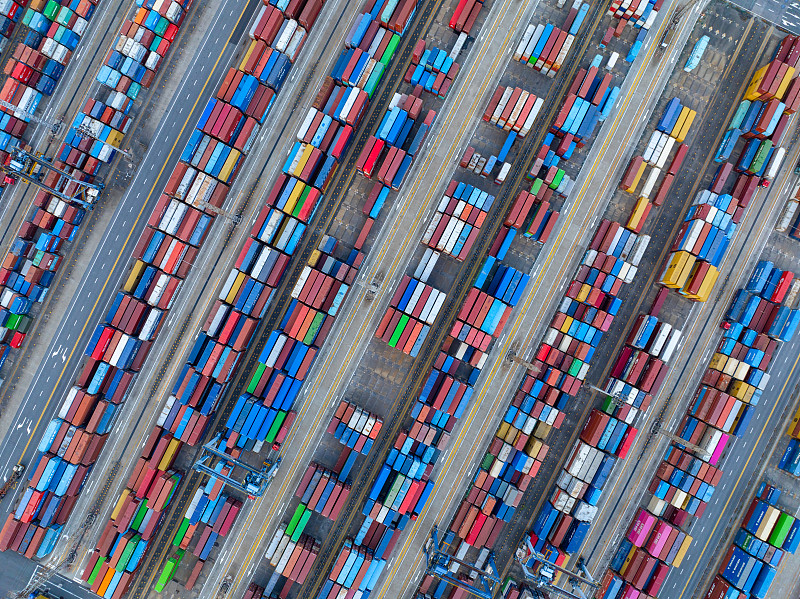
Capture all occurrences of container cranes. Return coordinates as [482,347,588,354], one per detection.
[511,525,605,599]
[420,517,504,599]
[0,140,108,215]
[187,421,284,501]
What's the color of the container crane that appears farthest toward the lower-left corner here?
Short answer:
blue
